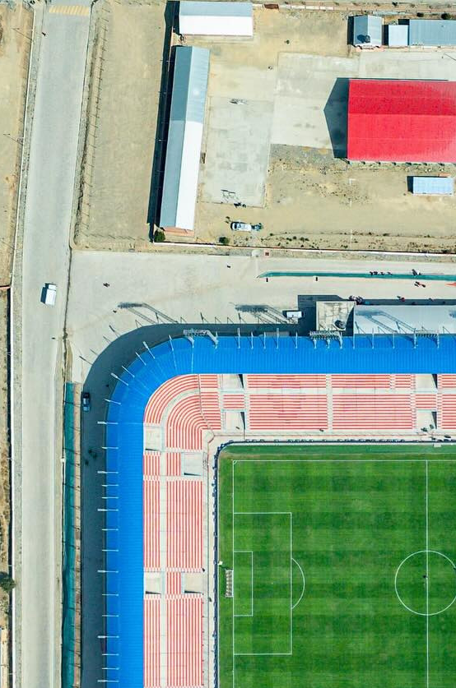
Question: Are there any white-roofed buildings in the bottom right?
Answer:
No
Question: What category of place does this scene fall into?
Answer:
sports ground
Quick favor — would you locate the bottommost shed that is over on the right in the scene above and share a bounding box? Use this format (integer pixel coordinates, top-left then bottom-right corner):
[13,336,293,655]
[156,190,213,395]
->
[412,176,454,198]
